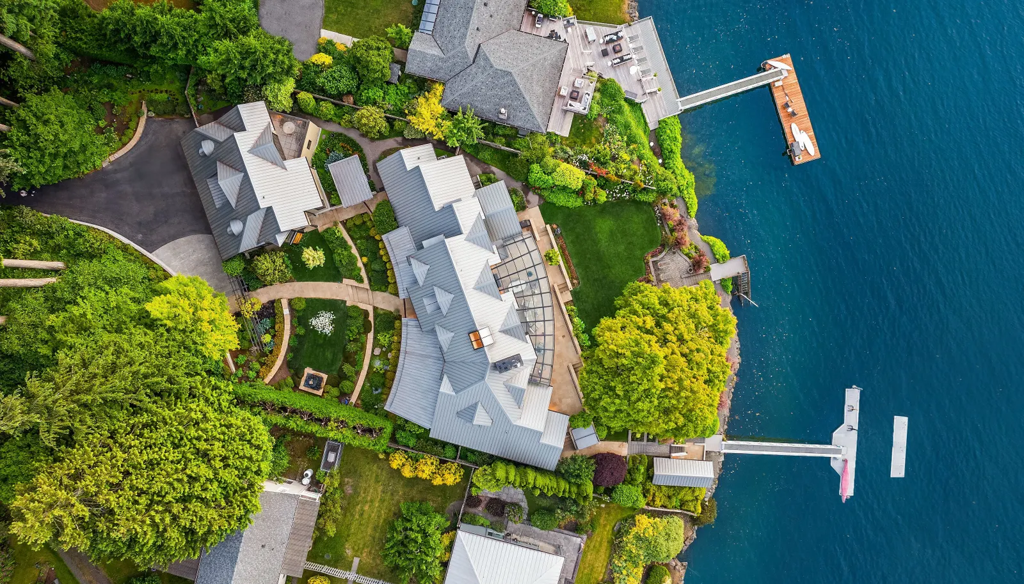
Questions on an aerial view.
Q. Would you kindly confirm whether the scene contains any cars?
No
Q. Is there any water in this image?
Yes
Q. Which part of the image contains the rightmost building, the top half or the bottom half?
bottom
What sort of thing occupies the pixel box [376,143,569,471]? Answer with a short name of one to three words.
house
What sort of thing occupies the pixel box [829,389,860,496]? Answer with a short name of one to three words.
pier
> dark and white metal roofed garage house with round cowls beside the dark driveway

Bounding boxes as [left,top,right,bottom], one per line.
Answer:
[180,101,335,261]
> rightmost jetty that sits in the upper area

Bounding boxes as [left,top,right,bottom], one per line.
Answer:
[764,55,821,166]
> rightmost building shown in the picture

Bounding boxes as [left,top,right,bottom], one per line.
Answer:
[651,455,714,488]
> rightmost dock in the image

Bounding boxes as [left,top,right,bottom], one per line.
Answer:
[888,415,908,477]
